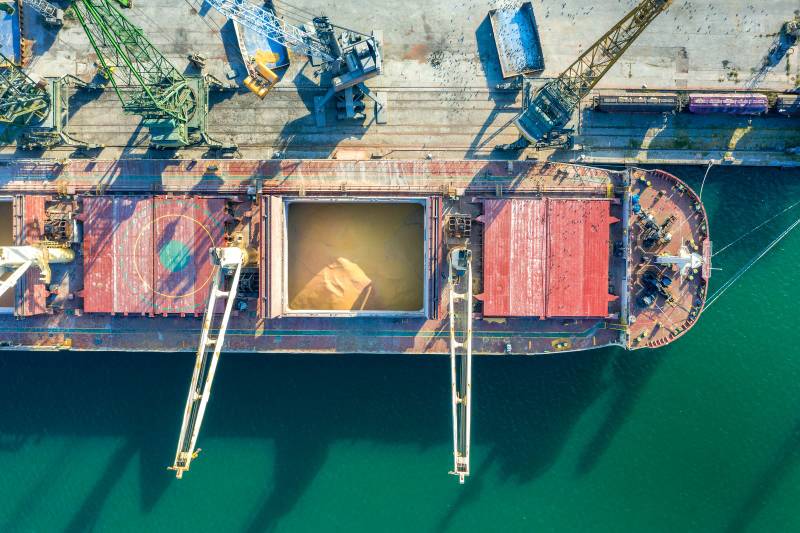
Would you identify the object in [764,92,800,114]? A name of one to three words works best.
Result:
rail car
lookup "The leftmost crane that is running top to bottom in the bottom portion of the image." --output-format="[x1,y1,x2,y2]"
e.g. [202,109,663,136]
[167,238,262,476]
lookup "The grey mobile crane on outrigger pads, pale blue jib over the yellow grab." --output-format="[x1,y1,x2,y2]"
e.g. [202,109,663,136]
[181,0,388,127]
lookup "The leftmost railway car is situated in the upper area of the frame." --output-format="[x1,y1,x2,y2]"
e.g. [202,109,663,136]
[586,92,684,114]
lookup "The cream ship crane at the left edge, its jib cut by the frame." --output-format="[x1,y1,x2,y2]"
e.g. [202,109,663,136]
[0,235,81,274]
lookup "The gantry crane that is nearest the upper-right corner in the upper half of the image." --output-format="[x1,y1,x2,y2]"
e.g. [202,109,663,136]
[480,0,675,152]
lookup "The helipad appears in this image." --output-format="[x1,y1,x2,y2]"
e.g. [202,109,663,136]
[117,199,229,313]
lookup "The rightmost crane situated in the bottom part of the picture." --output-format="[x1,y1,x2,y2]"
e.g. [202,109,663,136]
[441,240,473,482]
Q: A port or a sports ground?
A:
port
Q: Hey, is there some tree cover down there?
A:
No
